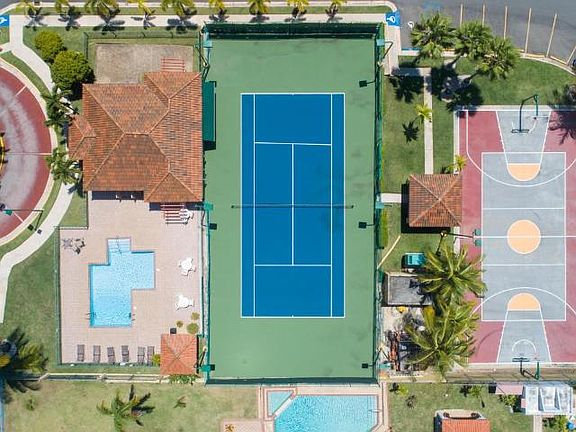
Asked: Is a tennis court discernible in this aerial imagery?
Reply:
Yes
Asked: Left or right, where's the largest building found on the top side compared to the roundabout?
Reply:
right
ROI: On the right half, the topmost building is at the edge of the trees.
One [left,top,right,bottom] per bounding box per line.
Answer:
[404,173,462,228]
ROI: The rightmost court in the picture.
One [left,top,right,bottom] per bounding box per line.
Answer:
[459,110,576,363]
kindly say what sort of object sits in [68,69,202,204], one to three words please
building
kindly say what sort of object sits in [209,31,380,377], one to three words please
tennis court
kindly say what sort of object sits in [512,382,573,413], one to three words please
shed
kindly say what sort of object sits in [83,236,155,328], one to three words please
swimming pool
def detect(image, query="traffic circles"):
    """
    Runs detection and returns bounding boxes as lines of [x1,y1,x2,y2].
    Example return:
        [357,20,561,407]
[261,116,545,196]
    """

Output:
[0,56,60,242]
